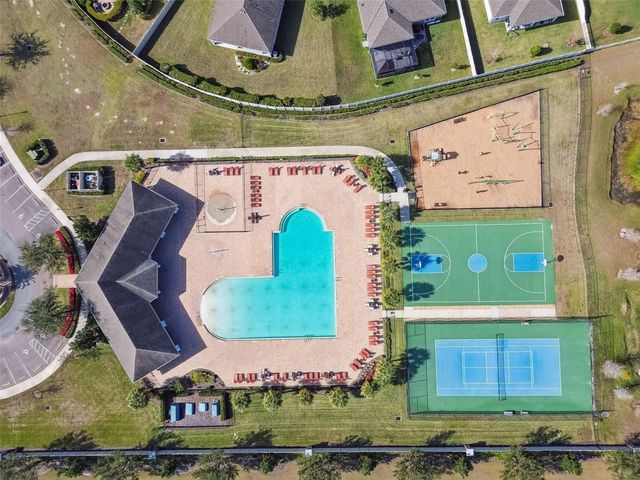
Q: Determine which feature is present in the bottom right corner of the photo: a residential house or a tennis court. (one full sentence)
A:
What appears in the bottom right corner of the photo is a tennis court.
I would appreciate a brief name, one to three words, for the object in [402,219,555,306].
basketball court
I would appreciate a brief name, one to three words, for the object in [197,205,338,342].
swimming pool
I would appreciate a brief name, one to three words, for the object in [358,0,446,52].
house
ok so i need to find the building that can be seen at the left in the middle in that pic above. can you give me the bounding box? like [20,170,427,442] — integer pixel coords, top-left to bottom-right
[75,180,182,382]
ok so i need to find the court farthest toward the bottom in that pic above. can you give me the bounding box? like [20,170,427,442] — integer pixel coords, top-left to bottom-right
[406,321,592,412]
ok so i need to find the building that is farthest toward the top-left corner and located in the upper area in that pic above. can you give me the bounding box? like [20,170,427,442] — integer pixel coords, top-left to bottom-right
[208,0,287,59]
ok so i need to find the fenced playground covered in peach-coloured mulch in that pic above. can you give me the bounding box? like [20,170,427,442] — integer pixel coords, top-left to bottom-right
[410,91,542,209]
